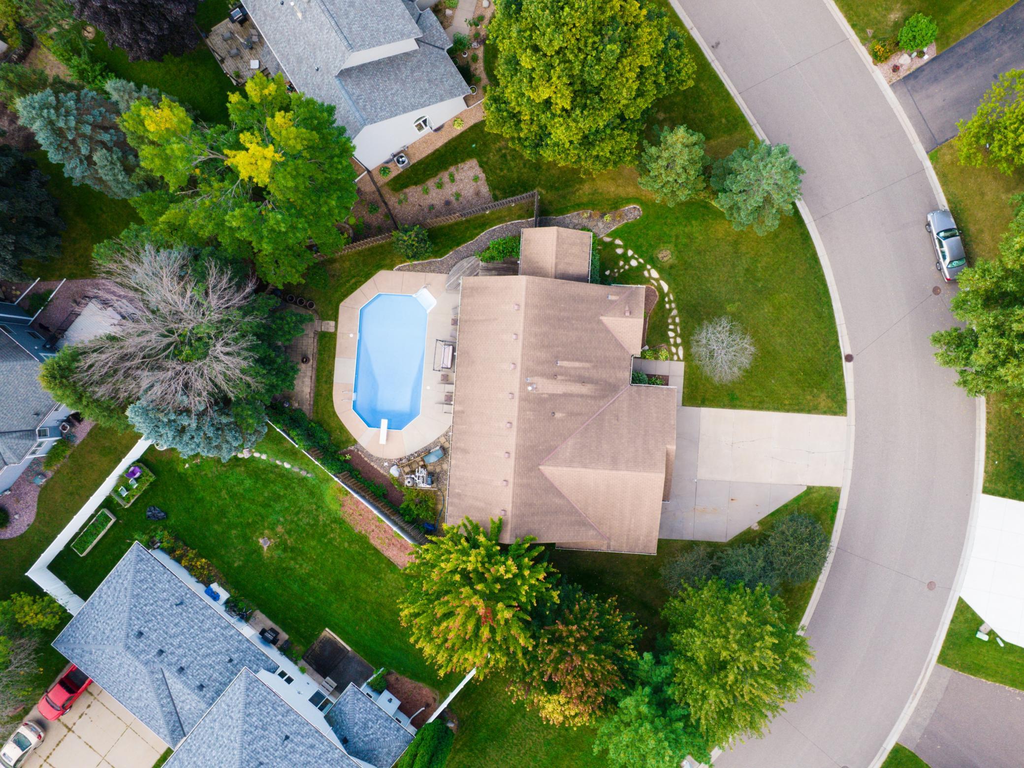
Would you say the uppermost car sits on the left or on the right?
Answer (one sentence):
The uppermost car is on the right side of the image.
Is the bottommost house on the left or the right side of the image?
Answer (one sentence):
The bottommost house appears in the left half of the scene.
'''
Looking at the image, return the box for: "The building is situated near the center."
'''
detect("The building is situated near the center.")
[442,226,678,556]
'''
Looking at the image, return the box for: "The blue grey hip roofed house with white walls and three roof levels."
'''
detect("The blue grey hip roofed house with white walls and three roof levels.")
[50,540,425,768]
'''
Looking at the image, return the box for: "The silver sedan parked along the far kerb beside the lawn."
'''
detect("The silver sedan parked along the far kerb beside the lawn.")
[927,204,976,281]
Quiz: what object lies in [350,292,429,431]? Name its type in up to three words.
swimming pool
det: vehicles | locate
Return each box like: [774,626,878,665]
[0,715,49,768]
[37,664,93,726]
[927,204,976,281]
